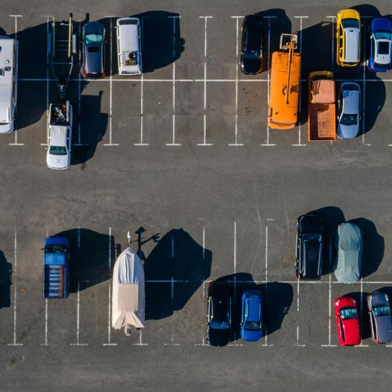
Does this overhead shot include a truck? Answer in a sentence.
Yes, there's a truck down there.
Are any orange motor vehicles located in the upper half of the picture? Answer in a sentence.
Yes, an orange motor vehicle is visible in the upper half of the picture.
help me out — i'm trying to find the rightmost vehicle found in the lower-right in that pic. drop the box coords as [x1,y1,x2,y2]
[366,291,392,344]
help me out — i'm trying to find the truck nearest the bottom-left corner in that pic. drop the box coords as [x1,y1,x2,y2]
[42,236,69,300]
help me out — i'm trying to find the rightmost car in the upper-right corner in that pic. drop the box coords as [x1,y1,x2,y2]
[367,17,392,72]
